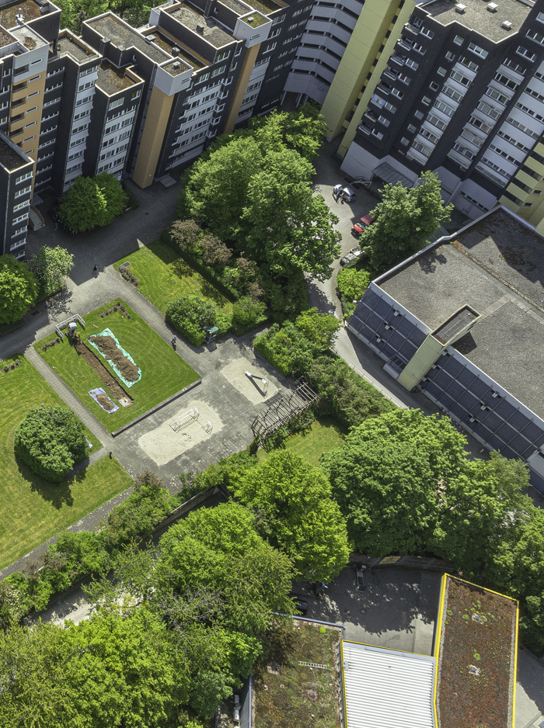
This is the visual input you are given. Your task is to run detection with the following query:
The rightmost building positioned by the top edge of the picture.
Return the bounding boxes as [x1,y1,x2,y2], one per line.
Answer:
[430,0,544,231]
